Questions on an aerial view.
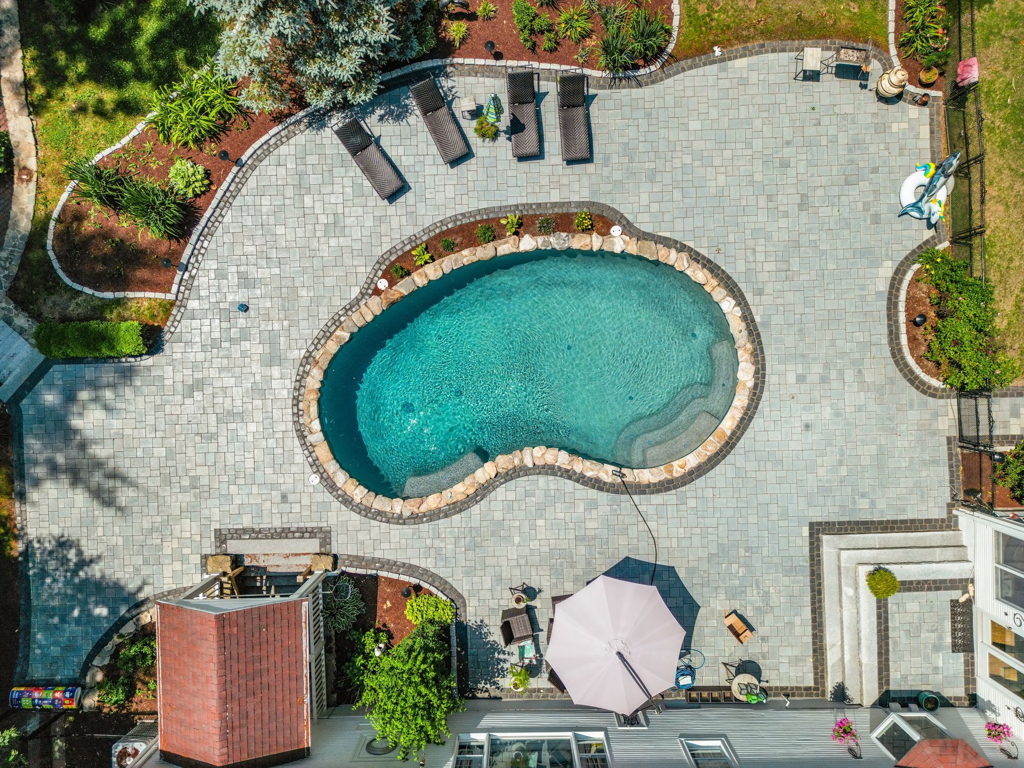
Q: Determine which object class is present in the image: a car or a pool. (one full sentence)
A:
The one in the frame is a pool.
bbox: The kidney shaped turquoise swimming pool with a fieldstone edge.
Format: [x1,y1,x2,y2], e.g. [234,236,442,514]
[301,230,756,516]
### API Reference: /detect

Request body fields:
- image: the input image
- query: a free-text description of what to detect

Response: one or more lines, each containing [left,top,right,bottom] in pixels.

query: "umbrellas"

[474,93,503,132]
[543,573,688,717]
